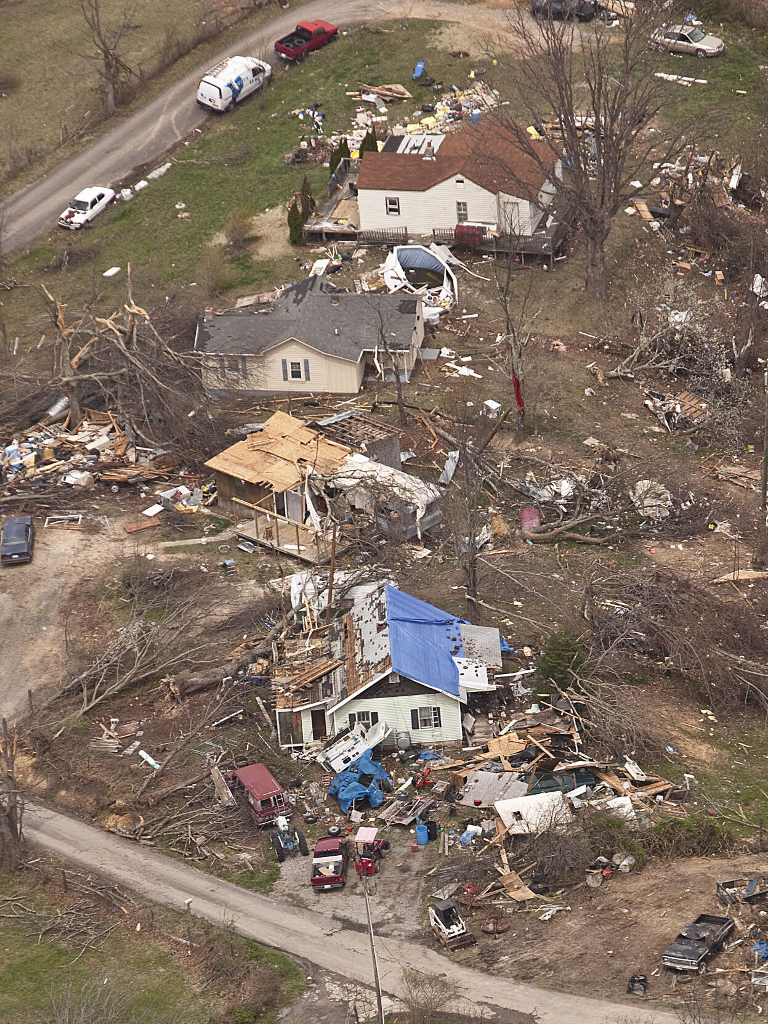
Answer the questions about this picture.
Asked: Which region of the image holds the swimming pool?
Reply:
top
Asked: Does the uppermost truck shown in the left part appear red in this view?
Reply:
Yes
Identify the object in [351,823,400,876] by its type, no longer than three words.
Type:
work vehicle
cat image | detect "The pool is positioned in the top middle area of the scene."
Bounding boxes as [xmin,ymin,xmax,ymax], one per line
[387,244,459,308]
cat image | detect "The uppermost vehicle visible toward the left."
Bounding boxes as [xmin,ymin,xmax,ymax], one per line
[270,16,344,56]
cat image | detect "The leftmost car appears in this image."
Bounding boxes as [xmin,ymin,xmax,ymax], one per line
[0,511,33,561]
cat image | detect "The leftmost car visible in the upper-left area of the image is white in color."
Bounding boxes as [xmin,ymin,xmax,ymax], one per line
[58,181,116,224]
